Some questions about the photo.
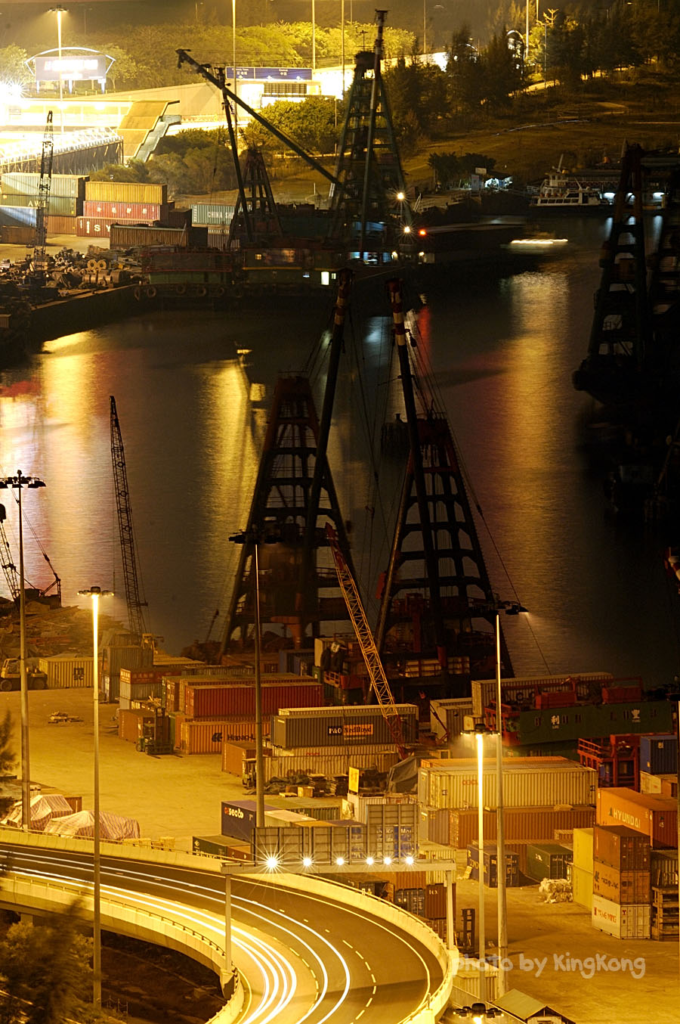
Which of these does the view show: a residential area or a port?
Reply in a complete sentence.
This image shows a port.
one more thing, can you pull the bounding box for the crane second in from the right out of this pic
[107,391,166,621]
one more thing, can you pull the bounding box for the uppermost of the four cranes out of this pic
[19,110,56,266]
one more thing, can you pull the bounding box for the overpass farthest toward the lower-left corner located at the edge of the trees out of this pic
[0,900,234,1005]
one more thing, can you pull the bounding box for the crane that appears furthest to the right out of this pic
[322,519,446,747]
